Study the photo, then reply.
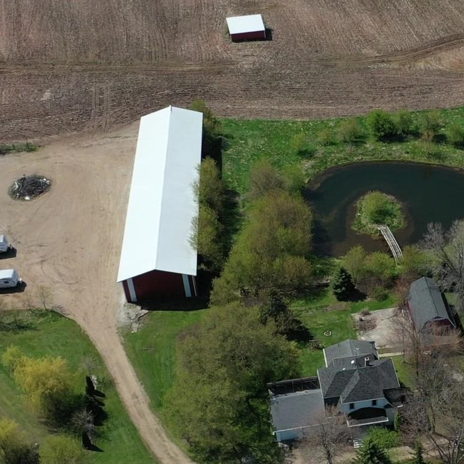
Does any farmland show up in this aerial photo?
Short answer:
Yes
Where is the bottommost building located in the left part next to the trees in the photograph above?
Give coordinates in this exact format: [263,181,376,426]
[111,106,205,323]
